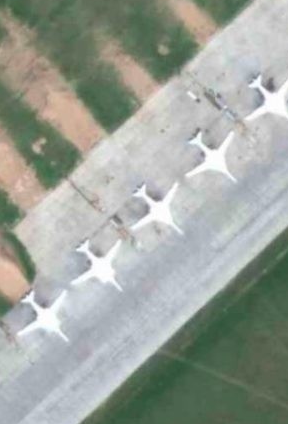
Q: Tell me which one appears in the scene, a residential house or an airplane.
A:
airplane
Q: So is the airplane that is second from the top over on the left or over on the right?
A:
right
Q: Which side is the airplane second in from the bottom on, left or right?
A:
left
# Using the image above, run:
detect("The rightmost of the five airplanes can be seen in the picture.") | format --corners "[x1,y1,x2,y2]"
[244,75,288,119]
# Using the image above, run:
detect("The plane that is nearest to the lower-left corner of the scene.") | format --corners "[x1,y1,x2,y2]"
[16,289,69,341]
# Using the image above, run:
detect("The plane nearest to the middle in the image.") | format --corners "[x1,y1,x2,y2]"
[131,182,183,234]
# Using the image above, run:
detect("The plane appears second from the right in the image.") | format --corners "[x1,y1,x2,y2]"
[185,129,237,182]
